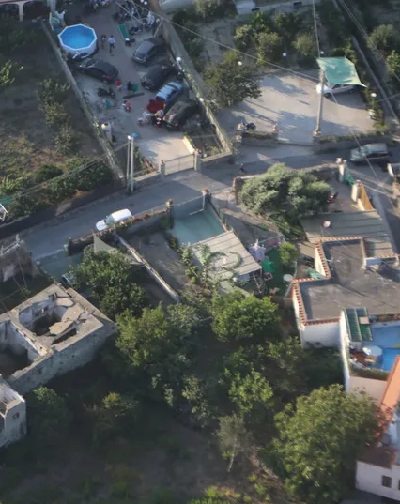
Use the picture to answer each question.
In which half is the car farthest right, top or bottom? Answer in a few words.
top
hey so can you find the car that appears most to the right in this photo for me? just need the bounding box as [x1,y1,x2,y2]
[347,141,393,165]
